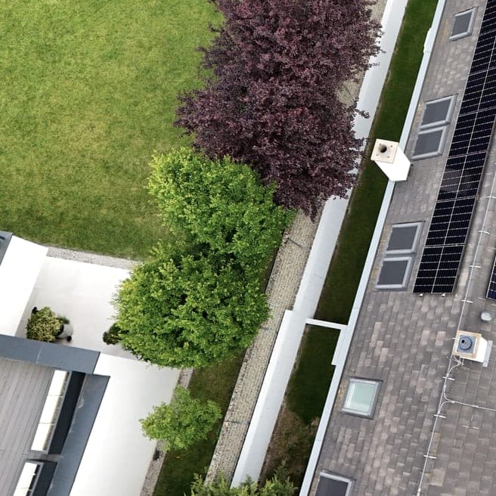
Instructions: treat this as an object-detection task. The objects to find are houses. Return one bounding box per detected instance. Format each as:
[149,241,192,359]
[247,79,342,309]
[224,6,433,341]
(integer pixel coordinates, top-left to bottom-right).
[0,332,181,496]
[301,0,496,496]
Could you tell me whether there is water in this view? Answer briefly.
No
